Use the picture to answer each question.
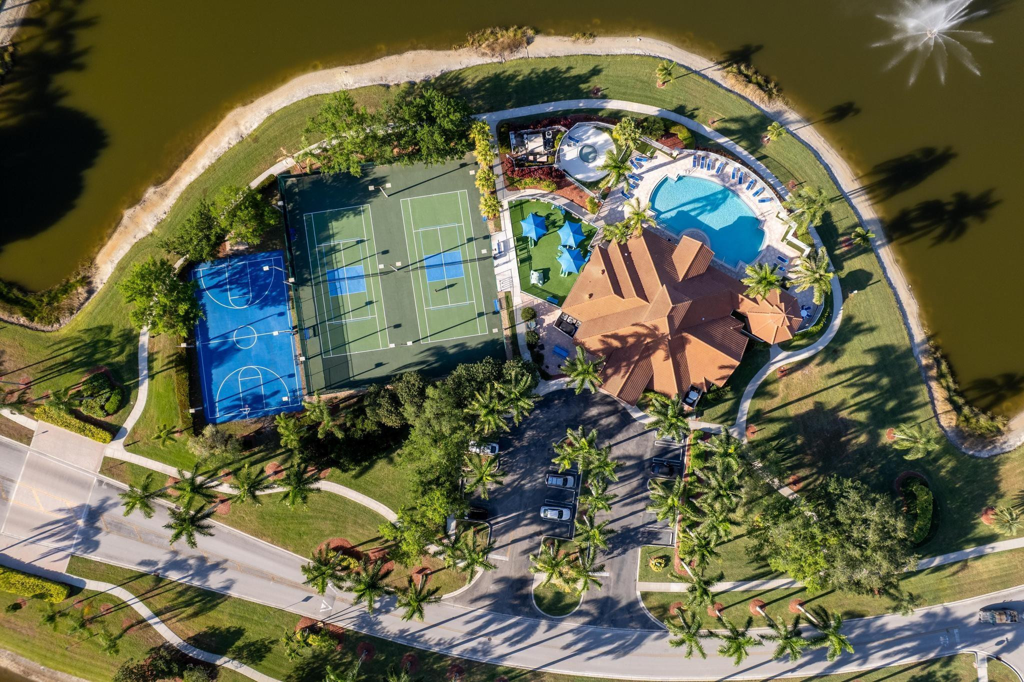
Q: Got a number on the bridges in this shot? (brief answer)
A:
none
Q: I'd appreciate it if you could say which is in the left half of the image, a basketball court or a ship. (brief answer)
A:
basketball court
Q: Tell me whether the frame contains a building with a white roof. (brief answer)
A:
No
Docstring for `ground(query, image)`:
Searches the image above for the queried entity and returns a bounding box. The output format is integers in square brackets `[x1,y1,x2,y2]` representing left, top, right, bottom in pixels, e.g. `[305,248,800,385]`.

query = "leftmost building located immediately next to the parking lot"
[561,225,763,406]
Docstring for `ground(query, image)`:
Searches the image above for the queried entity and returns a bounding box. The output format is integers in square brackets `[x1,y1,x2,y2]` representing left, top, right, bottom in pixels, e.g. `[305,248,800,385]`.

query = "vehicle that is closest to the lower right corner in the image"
[979,607,1019,625]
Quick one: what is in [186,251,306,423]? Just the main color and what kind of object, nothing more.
blue basketball court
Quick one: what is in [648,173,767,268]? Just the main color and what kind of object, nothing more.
blue swimming pool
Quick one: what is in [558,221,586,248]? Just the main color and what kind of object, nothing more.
blue umbrella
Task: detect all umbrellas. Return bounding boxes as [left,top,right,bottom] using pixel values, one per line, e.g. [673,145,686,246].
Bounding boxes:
[520,213,548,241]
[558,221,586,248]
[557,247,586,274]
